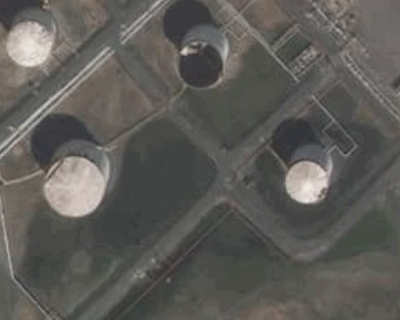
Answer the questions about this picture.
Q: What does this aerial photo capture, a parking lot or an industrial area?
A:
industrial area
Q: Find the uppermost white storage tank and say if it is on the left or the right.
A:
left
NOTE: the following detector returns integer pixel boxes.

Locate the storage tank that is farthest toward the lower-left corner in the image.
[45,137,111,217]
